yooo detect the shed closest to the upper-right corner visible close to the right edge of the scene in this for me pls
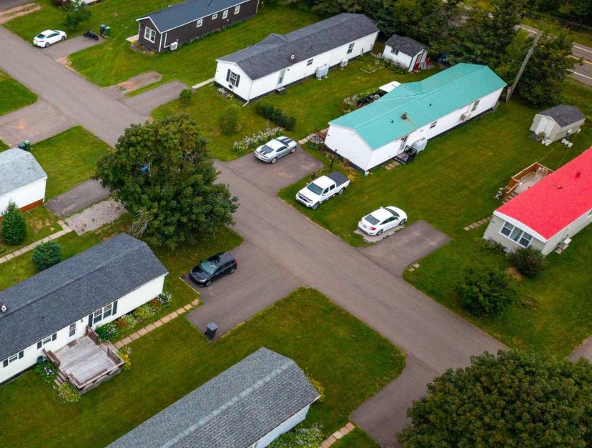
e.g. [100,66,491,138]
[528,103,585,143]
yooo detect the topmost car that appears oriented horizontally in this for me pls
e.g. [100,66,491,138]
[30,28,69,49]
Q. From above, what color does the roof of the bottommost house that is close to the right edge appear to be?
red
